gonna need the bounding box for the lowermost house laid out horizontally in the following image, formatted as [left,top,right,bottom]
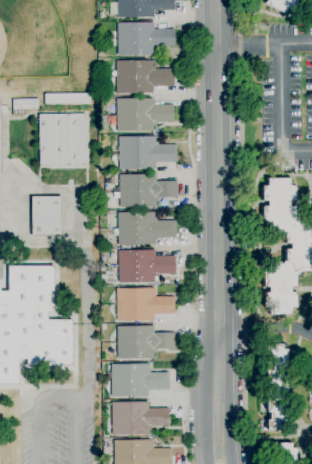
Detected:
[113,440,171,464]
